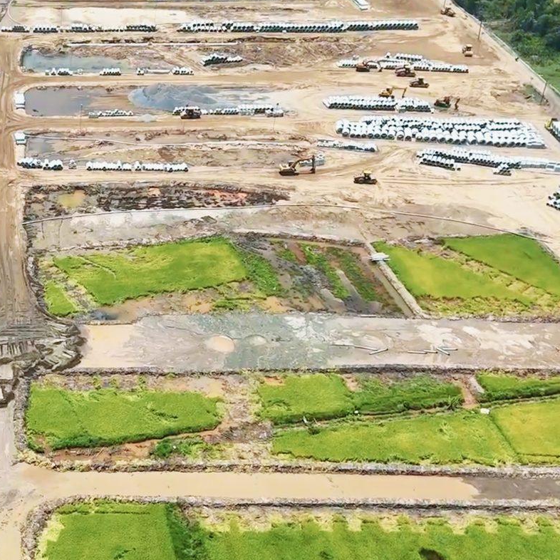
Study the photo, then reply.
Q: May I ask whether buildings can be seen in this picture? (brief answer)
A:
No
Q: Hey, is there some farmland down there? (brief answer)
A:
Yes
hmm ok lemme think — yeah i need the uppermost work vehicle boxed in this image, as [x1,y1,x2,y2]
[442,4,458,17]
